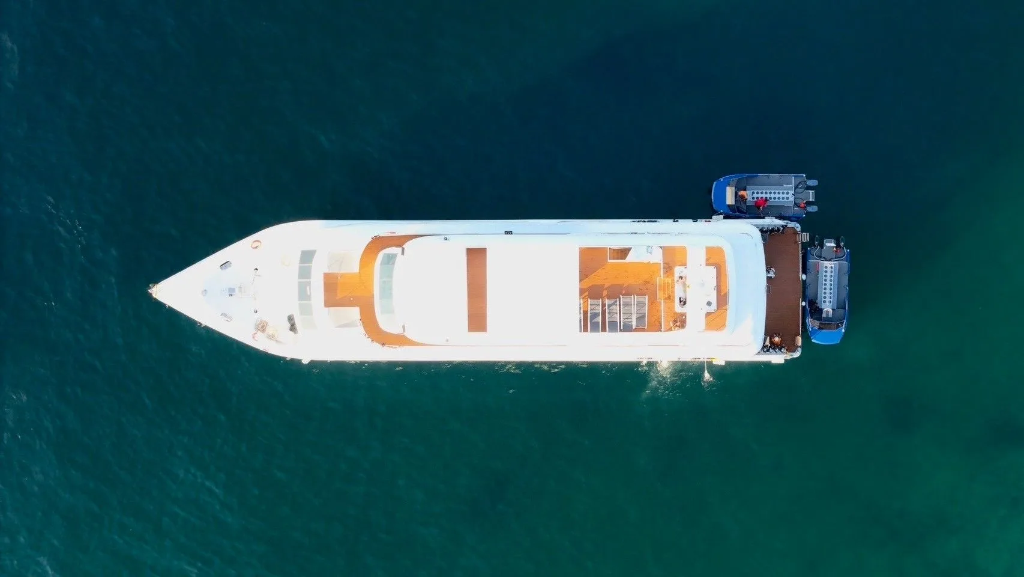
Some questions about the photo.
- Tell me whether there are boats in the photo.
Yes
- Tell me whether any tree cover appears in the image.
No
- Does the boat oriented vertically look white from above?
No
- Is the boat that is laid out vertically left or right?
right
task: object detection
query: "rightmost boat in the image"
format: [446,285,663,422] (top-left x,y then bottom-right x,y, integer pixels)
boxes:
[804,237,850,344]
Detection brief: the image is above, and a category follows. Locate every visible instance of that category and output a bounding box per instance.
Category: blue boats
[804,237,850,344]
[711,174,820,217]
